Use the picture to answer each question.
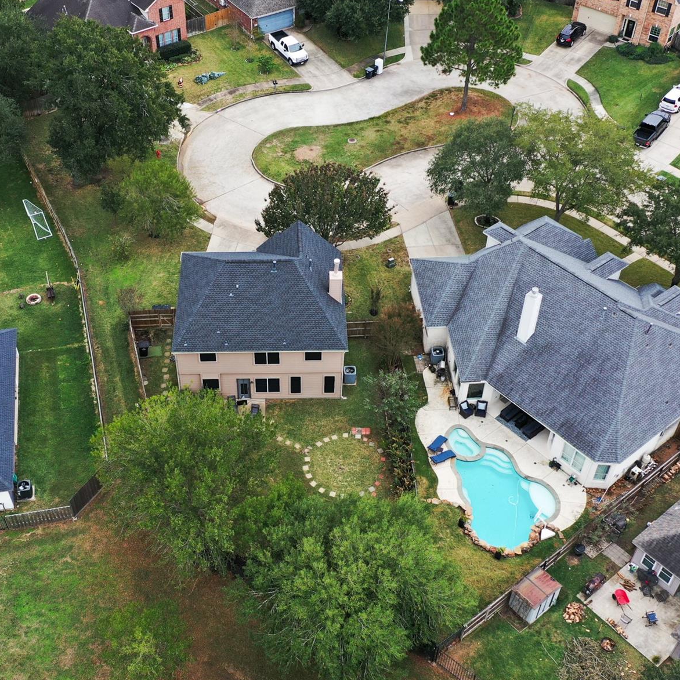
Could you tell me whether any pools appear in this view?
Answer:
Yes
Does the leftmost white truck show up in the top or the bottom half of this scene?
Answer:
top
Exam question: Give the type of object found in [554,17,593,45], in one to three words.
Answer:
car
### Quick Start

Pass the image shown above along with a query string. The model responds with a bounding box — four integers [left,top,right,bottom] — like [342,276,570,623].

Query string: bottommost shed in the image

[508,569,562,623]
